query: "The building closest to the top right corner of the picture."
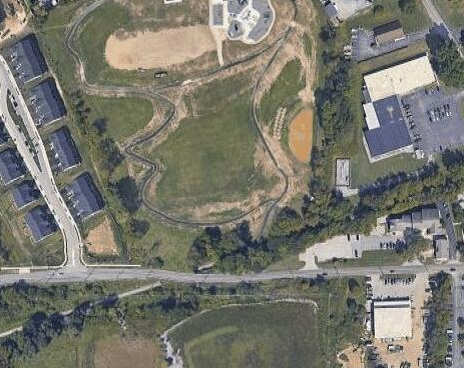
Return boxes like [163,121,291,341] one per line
[371,18,407,47]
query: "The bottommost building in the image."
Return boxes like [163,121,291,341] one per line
[374,308,412,339]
